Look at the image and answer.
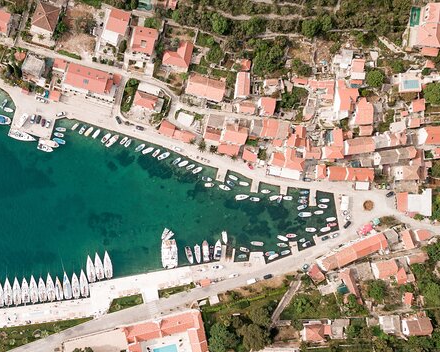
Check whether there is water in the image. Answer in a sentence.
Yes, water shows up in the scene.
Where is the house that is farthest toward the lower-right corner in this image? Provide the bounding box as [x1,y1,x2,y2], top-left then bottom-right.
[401,316,433,336]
